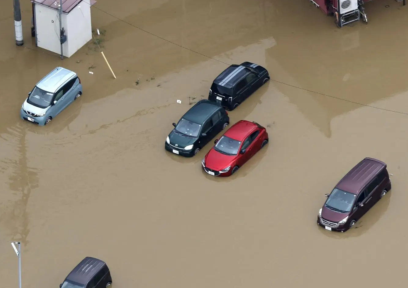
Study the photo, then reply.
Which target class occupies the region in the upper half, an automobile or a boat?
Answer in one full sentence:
What appears in the upper half is an automobile.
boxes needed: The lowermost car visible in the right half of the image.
[317,155,394,232]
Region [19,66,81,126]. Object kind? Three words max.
car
